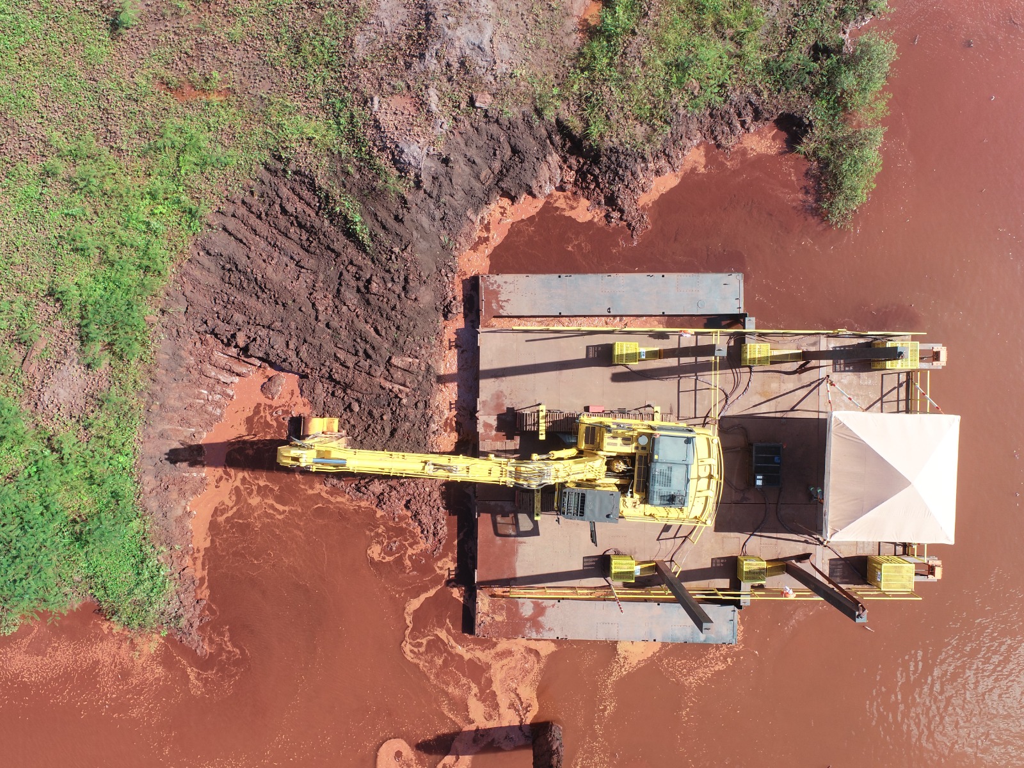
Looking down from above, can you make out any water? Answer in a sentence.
Yes, there is water in the image.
